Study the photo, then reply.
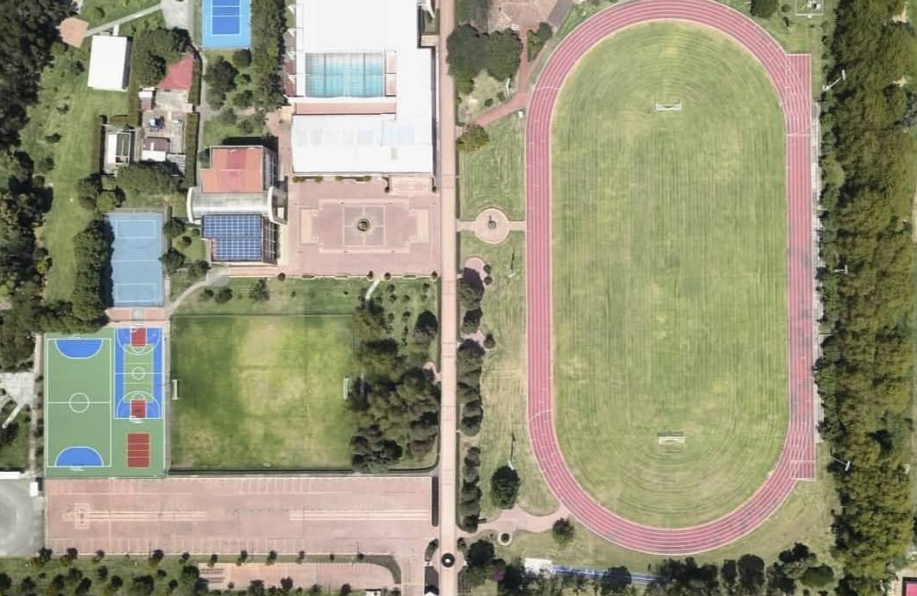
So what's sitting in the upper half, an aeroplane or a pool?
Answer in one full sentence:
Visible in the upper half is a pool.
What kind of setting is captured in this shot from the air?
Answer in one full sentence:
It's a sports ground.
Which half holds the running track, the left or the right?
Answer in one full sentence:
The running track appears in the right half of the scene.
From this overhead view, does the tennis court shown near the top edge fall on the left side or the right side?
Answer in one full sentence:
The tennis court shown near the top edge is on the left side of the image.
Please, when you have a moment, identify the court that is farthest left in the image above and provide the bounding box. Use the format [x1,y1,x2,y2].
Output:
[44,327,115,477]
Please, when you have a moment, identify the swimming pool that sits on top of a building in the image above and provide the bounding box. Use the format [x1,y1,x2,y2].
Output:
[308,57,386,98]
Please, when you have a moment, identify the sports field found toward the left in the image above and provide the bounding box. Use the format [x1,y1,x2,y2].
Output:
[170,316,354,470]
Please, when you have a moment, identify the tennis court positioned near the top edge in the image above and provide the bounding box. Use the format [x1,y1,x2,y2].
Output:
[201,0,252,48]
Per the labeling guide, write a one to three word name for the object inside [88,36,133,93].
shed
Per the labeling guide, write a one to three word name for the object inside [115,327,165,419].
basketball court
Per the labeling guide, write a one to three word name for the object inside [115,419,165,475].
sports court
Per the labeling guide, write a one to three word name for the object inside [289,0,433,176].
building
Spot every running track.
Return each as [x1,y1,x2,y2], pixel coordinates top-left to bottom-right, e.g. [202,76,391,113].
[527,0,814,554]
